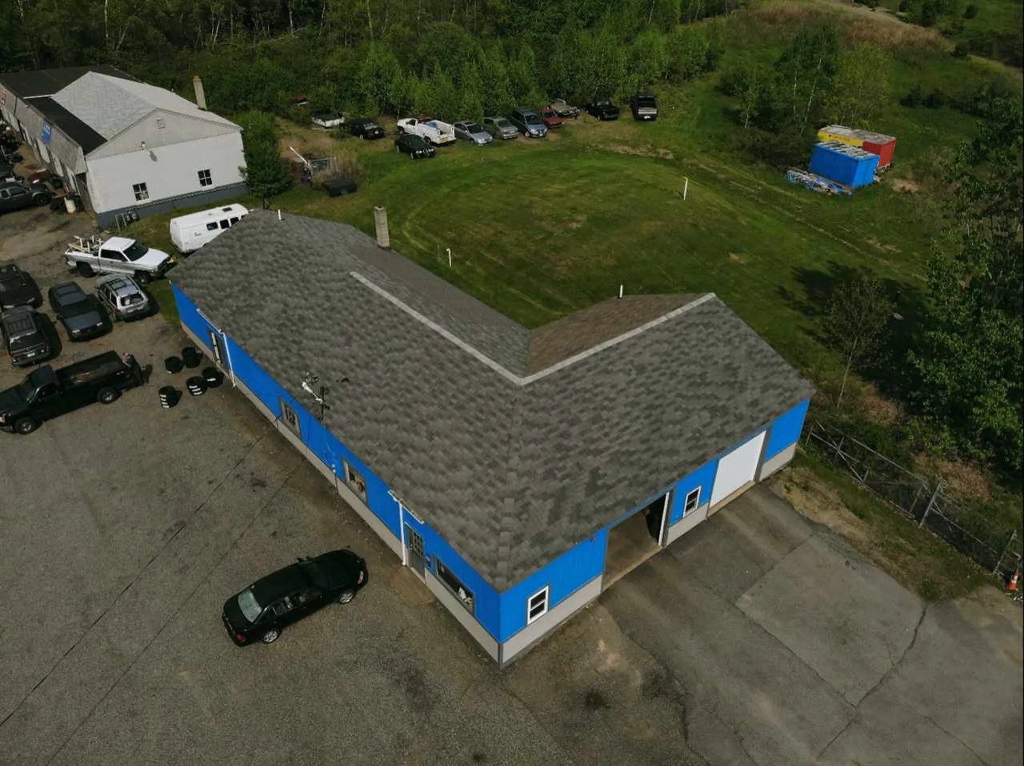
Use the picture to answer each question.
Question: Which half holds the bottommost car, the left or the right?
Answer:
left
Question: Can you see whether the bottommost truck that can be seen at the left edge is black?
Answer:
Yes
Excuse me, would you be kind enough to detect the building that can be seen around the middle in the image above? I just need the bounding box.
[168,209,816,667]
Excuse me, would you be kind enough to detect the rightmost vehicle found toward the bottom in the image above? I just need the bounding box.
[219,549,371,650]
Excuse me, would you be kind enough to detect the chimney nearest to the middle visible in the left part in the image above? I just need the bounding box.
[375,205,390,245]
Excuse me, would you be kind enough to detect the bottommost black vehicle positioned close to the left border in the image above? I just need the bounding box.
[0,359,129,436]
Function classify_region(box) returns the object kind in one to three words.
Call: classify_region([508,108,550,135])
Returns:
car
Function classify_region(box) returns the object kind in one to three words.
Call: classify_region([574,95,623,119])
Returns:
truck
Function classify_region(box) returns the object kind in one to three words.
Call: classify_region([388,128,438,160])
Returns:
car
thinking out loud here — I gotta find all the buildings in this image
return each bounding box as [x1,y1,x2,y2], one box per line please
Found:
[168,209,816,667]
[0,59,252,225]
